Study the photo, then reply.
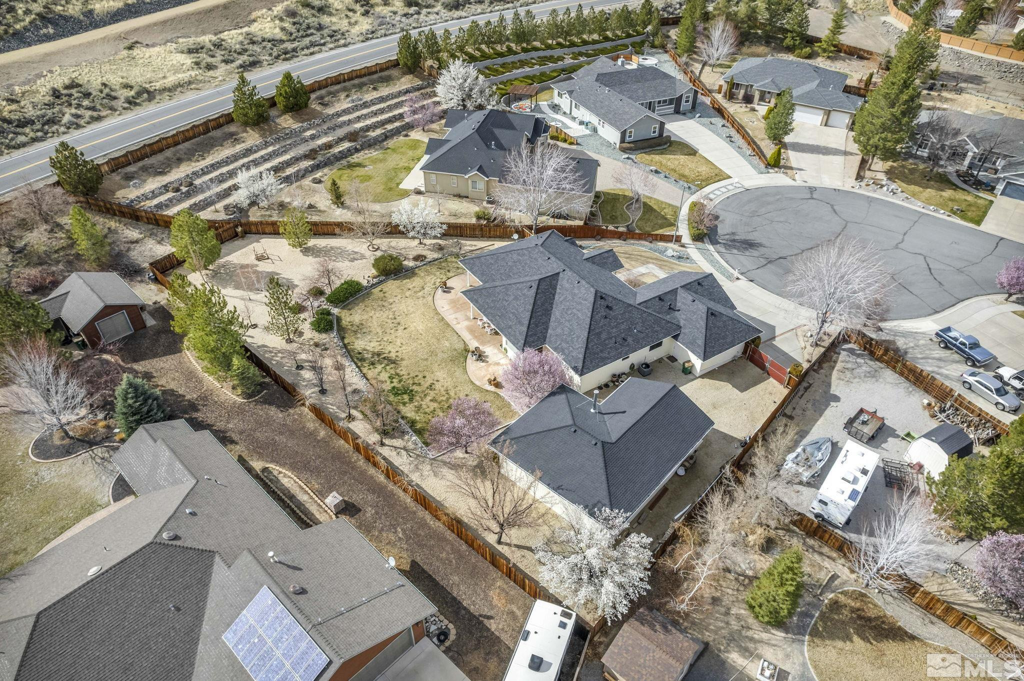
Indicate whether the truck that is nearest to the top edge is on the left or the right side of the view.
right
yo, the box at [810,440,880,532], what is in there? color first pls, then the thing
white trailer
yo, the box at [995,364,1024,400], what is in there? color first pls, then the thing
white car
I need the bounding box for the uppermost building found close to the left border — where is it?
[35,271,148,351]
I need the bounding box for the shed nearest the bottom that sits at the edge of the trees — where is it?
[600,607,701,681]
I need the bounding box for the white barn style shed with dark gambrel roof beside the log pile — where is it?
[896,420,956,472]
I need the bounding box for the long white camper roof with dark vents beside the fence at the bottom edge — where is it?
[502,600,576,681]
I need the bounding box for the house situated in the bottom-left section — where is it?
[0,418,439,681]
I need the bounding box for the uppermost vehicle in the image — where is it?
[932,324,1001,370]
